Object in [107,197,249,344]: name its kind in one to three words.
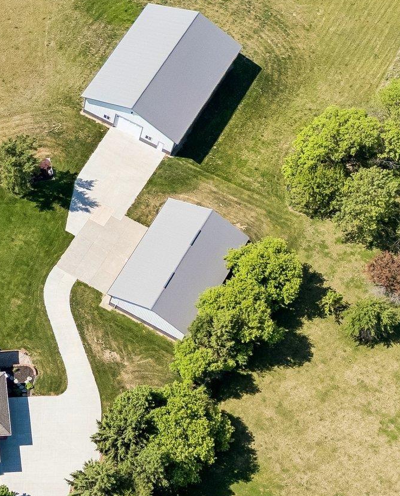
barn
